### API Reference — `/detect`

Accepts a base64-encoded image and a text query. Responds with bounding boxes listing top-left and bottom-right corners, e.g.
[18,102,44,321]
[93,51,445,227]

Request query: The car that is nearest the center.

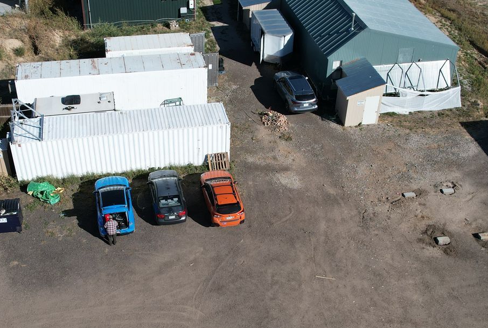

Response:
[203,171,249,225]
